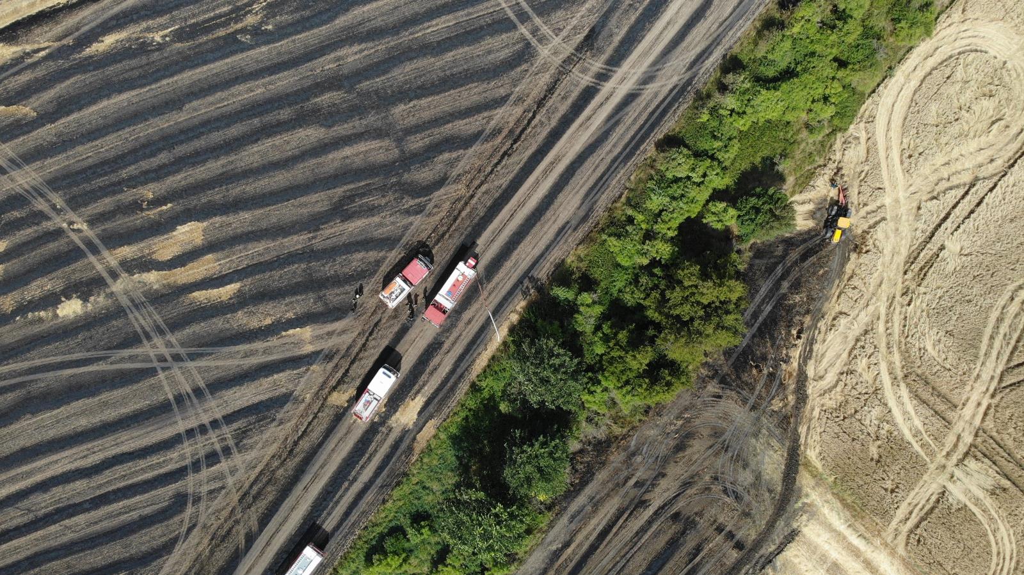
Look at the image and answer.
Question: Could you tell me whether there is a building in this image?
No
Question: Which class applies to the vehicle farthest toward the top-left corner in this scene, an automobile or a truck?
truck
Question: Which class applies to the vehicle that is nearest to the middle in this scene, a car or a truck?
truck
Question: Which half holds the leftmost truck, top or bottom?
bottom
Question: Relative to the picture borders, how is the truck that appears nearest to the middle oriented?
at an angle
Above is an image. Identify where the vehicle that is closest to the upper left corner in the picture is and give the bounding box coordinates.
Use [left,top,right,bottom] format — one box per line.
[380,257,432,308]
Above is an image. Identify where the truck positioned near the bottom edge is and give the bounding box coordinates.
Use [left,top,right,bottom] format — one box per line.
[286,541,326,575]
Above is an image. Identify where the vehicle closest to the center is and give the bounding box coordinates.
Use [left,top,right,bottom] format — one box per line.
[421,259,477,327]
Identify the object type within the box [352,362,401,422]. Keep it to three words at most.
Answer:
truck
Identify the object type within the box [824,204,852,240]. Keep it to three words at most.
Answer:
work vehicle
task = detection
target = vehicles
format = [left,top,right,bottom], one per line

[421,259,477,327]
[824,204,852,240]
[286,541,326,575]
[352,362,401,422]
[380,257,432,308]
